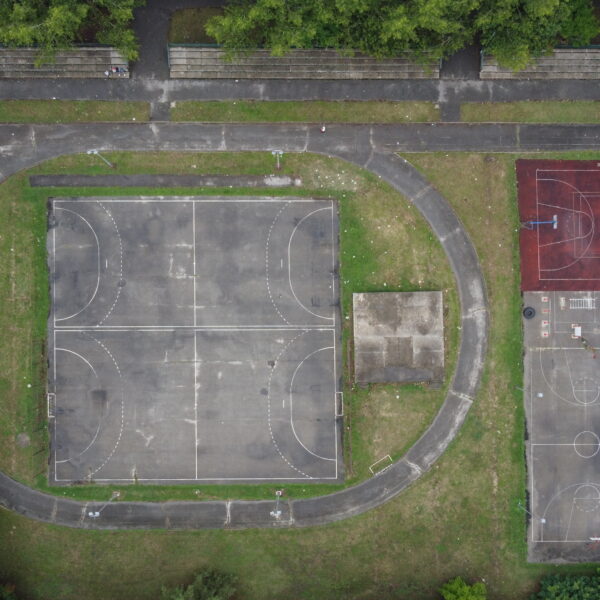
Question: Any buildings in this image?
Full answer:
No, the scene contains no building.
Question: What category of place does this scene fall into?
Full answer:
The area seen from above is a sports ground.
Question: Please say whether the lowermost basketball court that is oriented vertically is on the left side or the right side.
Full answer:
You can find the lowermost basketball court that is oriented vertically on the right side of the picture.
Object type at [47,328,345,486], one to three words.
sports court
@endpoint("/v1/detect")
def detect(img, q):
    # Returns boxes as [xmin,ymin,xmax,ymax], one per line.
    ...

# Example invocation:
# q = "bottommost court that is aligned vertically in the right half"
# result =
[524,346,600,562]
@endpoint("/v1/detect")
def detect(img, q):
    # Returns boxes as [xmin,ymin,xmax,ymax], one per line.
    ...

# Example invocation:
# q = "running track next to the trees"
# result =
[0,123,600,530]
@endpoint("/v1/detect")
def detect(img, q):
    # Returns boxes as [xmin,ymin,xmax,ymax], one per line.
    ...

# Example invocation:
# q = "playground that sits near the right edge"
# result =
[521,291,600,349]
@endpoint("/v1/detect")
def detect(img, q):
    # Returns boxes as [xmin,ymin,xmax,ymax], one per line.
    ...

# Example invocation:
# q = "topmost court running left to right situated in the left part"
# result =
[47,196,342,328]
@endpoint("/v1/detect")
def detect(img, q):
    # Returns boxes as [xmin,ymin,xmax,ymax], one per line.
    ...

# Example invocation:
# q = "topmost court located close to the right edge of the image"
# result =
[516,159,600,292]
